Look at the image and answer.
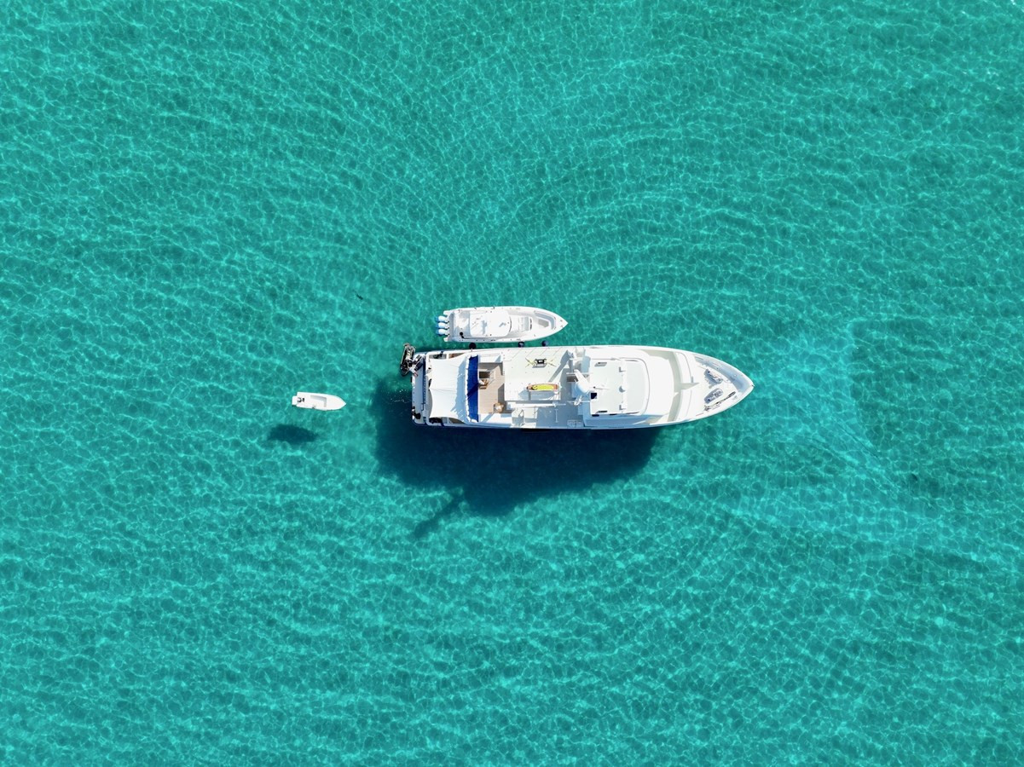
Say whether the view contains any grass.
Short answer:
No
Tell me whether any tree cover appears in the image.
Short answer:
No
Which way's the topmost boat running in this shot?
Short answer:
from left to right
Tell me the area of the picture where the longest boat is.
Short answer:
center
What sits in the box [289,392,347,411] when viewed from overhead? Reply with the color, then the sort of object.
white boat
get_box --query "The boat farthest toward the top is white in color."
[436,306,568,343]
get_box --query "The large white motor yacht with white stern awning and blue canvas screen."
[413,345,754,429]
